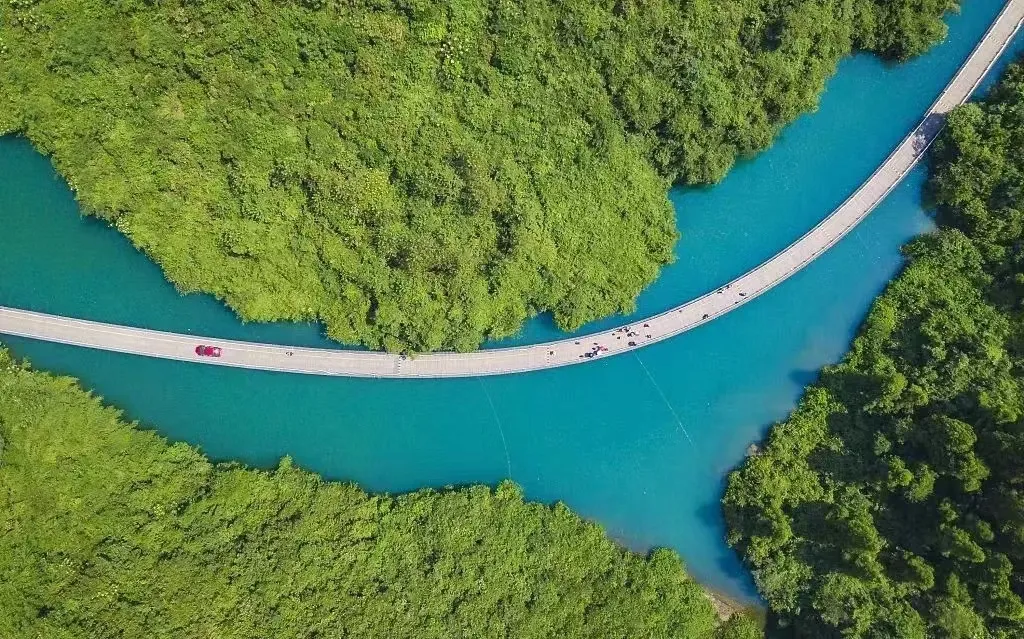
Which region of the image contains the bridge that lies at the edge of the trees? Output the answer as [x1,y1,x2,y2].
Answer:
[0,0,1024,378]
